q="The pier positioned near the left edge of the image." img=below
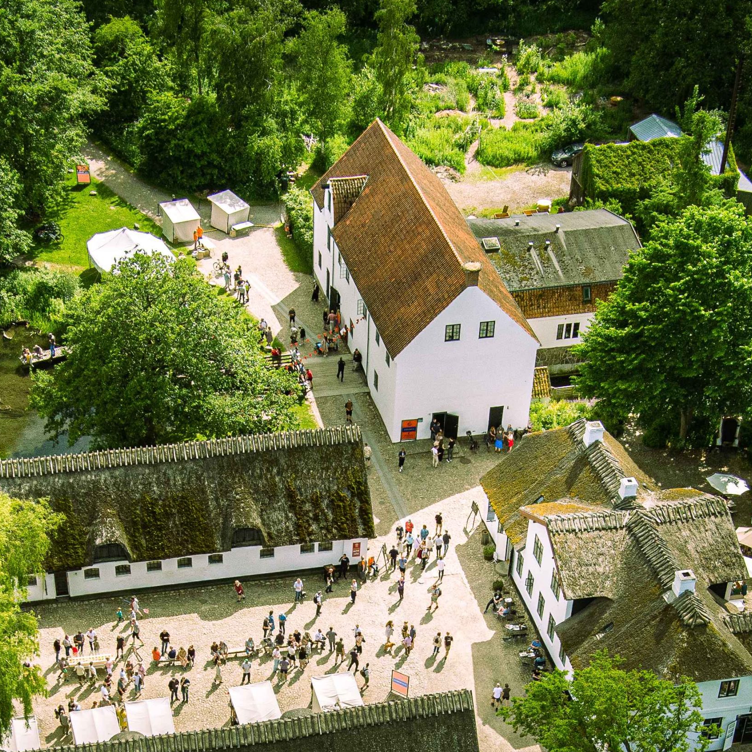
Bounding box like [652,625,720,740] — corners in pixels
[17,343,78,371]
